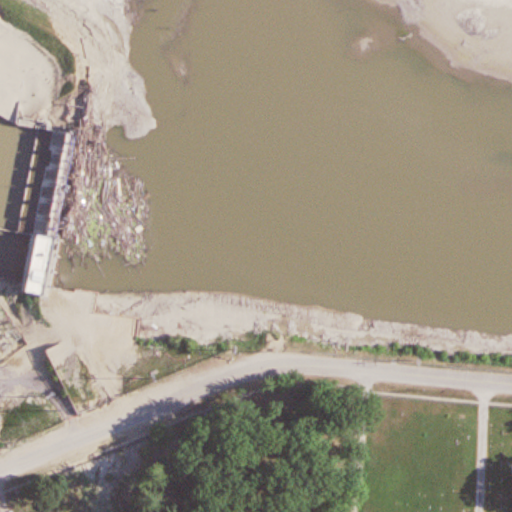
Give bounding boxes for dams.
[20,128,79,243]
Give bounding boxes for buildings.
[25,234,52,299]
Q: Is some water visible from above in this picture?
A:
Yes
